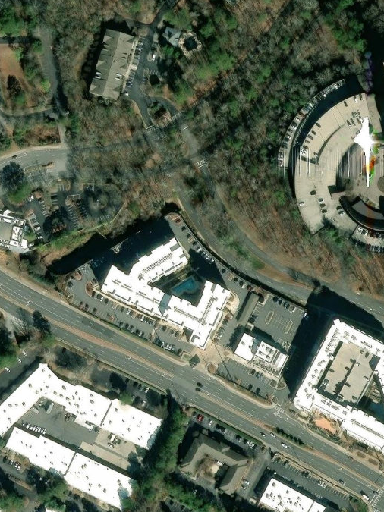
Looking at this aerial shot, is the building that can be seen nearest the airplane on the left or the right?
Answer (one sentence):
You can find the building that can be seen nearest the airplane on the right side of the picture.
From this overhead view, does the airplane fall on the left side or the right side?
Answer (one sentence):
You can find the airplane on the right side of the picture.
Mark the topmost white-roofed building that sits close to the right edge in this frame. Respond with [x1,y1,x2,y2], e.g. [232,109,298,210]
[295,319,384,455]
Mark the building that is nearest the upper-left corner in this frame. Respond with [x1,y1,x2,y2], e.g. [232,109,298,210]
[89,27,135,102]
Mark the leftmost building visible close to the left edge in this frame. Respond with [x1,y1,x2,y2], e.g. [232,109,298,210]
[0,210,31,255]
